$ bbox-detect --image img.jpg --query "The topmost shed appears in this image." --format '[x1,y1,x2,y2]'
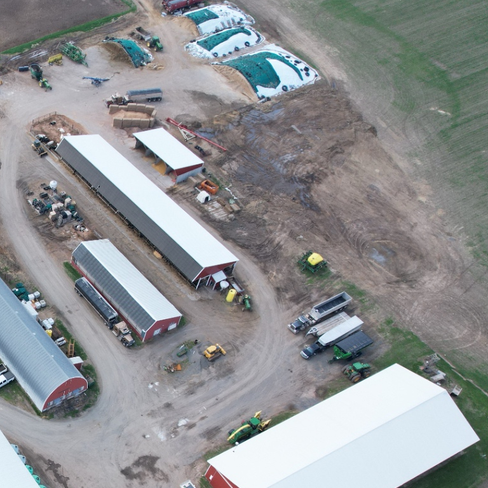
[137,128,198,182]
